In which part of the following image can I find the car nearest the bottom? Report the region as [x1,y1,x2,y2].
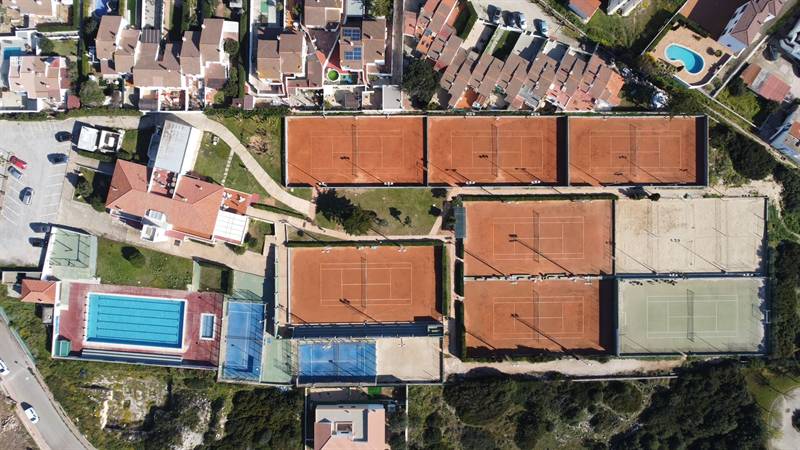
[27,406,40,423]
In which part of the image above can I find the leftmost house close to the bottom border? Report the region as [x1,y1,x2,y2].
[315,402,385,450]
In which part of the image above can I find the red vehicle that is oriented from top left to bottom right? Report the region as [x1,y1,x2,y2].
[10,156,27,169]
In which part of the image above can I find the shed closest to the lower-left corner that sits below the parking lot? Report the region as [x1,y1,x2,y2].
[55,338,76,356]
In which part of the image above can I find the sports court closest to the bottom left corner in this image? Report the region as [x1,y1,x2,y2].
[47,230,97,283]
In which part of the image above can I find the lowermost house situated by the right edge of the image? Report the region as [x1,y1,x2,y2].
[762,116,800,173]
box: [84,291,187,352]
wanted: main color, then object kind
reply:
blue swimming pool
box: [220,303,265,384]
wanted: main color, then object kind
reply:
blue sports court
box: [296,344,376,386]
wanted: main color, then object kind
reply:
blue sports court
